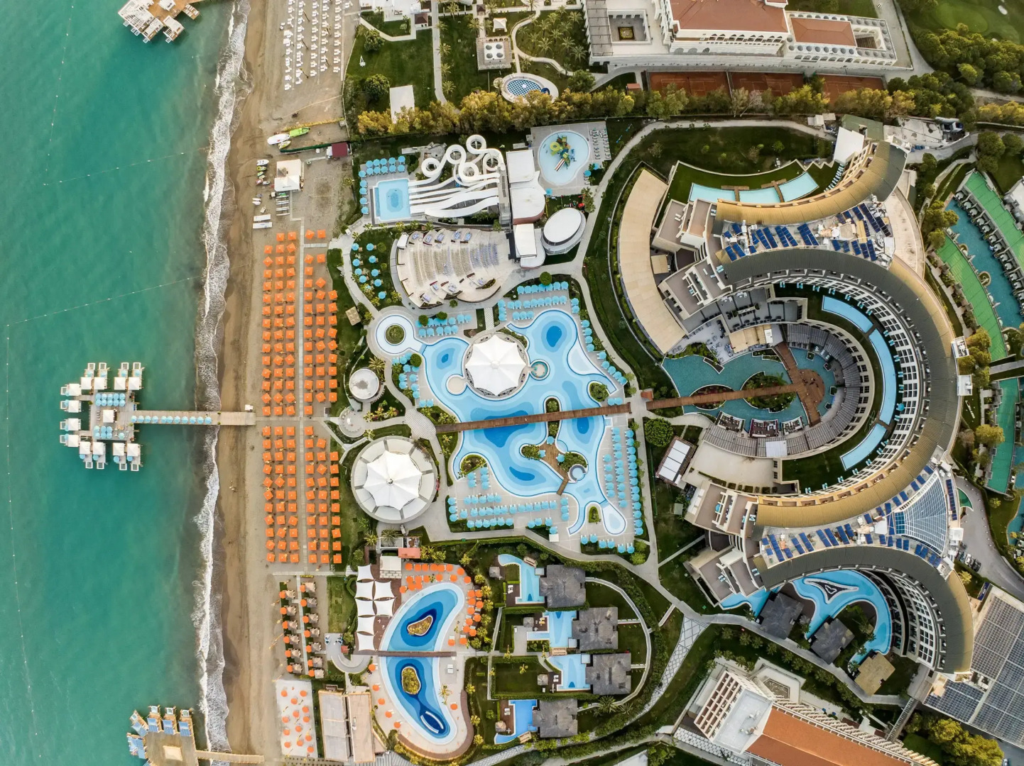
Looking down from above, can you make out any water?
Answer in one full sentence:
Yes, there's water in this view.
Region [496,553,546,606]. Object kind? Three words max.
swimming pool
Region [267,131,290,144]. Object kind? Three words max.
boat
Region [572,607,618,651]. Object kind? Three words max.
house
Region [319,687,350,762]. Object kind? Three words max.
building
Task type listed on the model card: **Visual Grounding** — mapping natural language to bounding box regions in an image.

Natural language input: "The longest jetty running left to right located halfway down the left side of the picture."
[74,389,256,444]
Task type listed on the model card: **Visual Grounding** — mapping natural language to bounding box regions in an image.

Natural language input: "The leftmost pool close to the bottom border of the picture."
[376,580,467,748]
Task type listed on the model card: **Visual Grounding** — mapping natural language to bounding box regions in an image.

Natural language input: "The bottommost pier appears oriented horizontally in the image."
[144,732,265,766]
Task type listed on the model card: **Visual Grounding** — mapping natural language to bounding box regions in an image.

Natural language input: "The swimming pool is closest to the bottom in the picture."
[492,701,539,747]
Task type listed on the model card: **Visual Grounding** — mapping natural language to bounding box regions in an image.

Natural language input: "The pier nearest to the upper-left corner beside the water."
[137,0,202,41]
